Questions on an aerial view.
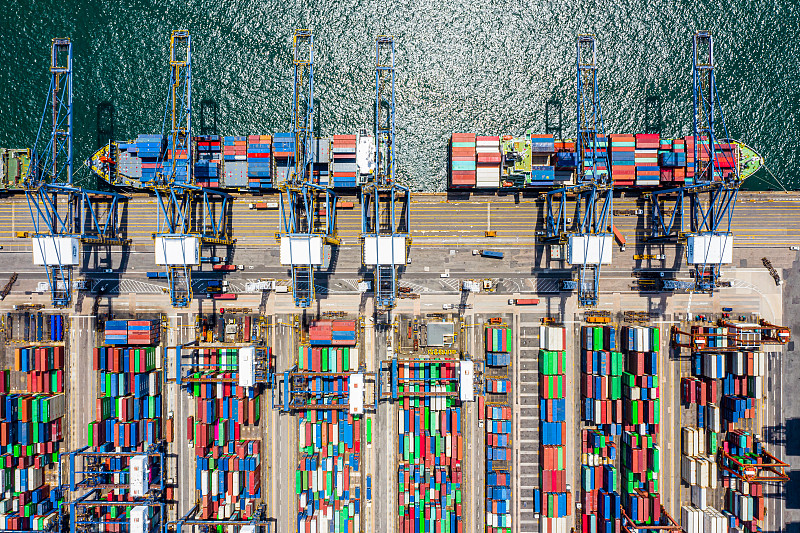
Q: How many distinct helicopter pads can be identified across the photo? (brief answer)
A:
zero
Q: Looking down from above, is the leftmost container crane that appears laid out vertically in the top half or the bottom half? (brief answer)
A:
top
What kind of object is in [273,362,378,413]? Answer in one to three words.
container crane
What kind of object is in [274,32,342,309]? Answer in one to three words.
container crane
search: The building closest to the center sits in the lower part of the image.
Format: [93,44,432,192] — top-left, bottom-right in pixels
[427,323,455,346]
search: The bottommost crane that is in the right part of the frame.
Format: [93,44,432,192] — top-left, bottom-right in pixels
[620,507,685,533]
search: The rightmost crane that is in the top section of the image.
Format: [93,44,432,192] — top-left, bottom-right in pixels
[634,32,737,295]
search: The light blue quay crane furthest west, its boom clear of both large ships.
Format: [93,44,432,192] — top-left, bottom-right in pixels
[24,39,135,309]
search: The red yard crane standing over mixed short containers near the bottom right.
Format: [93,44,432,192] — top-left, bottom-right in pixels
[720,449,791,483]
